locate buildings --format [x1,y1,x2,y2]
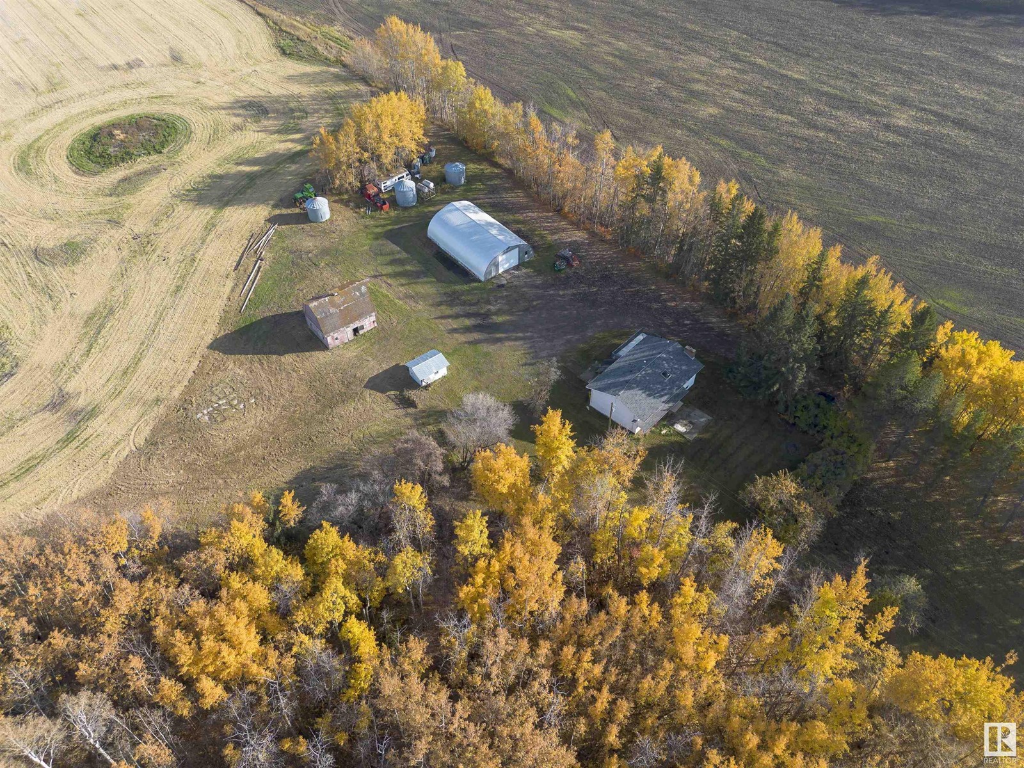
[583,337,706,440]
[296,282,385,349]
[403,350,450,385]
[424,202,535,280]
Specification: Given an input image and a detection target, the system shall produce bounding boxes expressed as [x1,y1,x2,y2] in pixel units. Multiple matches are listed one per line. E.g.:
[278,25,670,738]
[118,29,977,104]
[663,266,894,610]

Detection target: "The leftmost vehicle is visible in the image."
[291,189,318,209]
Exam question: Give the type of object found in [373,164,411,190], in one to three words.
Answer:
vehicle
